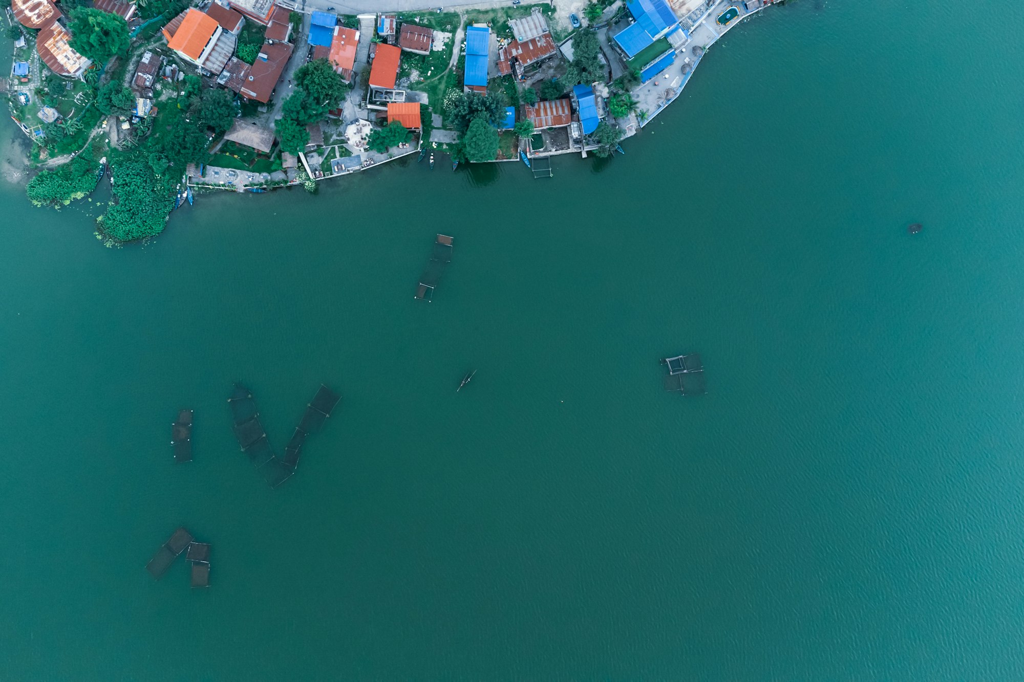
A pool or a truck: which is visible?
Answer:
pool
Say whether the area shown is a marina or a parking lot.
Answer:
marina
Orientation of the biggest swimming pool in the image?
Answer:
on a diagonal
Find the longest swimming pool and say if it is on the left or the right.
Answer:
right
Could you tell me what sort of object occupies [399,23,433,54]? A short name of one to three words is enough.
house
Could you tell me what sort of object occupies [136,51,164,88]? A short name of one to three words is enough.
shed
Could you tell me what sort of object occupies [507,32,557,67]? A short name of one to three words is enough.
house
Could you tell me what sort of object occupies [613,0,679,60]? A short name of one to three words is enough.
building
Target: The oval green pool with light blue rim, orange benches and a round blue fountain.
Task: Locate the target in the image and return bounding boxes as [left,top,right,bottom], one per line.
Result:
[715,3,741,27]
